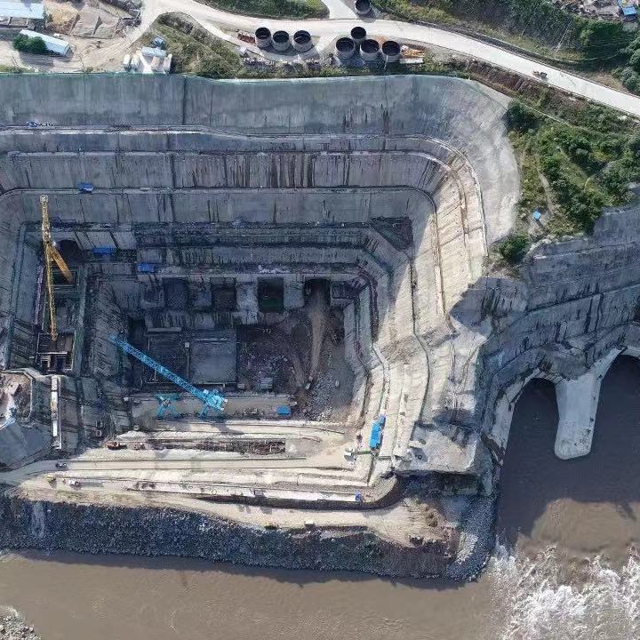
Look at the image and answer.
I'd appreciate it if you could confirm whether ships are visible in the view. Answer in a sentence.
No, the scene contains no ship.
